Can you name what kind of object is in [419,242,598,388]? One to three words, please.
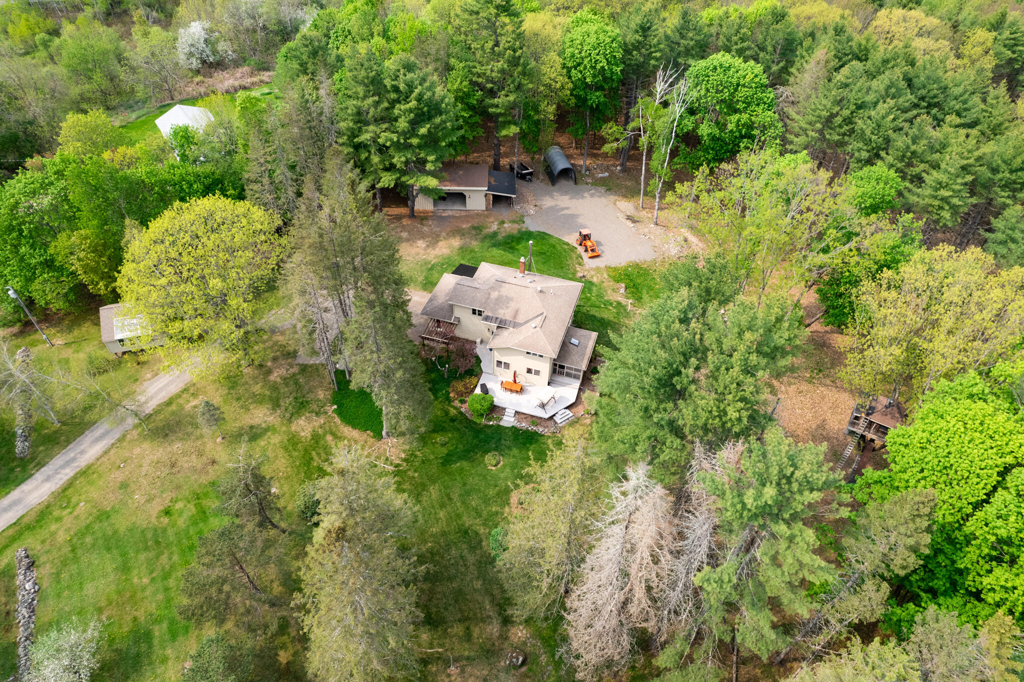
house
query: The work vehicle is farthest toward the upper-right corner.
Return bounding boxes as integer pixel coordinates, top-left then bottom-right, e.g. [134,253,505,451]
[574,227,601,258]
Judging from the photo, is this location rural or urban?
rural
